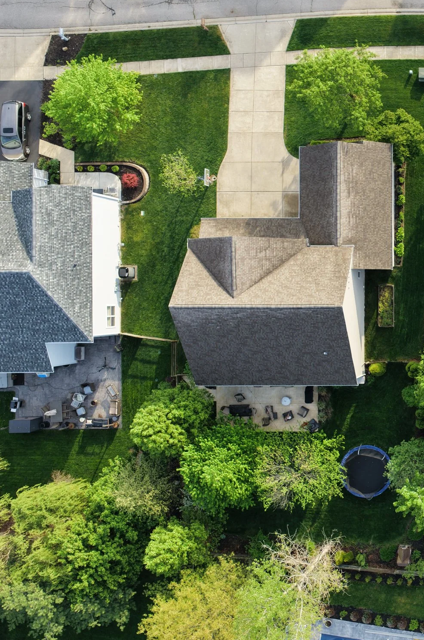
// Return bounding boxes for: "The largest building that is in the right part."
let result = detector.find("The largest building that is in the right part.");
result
[168,141,396,387]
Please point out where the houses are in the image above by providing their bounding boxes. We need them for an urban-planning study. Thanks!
[168,141,396,387]
[0,161,122,374]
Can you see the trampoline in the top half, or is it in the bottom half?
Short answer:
bottom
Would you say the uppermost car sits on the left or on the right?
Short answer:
left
